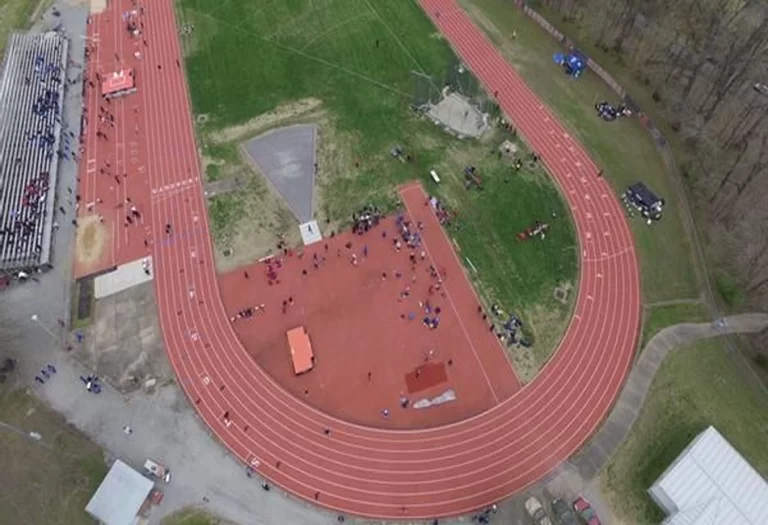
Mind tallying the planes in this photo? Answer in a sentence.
The picture shows no planes.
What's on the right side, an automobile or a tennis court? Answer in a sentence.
It is an automobile that can be seen on the right side.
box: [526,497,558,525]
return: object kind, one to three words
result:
car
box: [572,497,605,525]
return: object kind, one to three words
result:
car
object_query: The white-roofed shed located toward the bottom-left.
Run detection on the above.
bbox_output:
[82,459,163,525]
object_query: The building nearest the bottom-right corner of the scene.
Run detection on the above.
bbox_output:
[652,426,768,525]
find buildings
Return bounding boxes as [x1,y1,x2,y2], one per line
[652,426,768,525]
[82,459,163,525]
